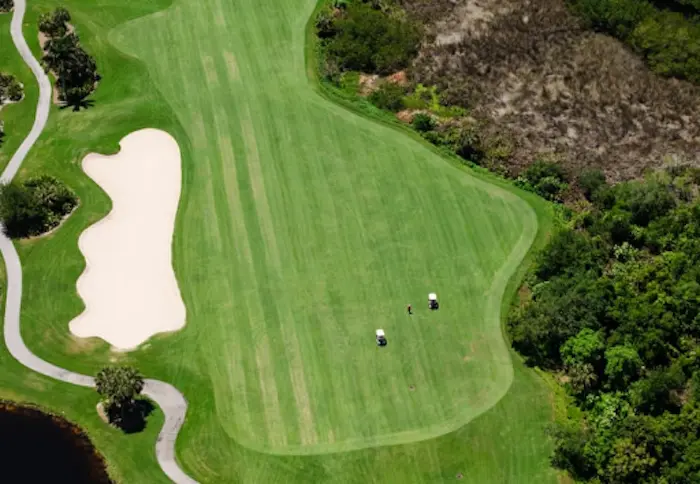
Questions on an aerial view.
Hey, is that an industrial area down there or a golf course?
golf course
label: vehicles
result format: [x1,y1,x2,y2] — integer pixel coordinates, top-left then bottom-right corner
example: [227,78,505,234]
[429,294,440,311]
[377,330,388,348]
